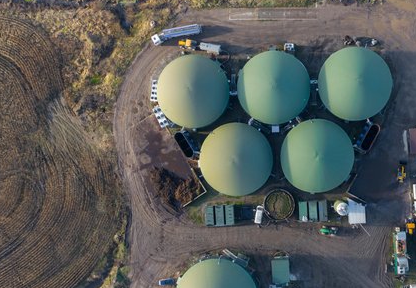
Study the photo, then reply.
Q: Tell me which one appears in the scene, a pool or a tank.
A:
tank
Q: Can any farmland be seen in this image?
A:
Yes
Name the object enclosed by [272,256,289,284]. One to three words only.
shed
